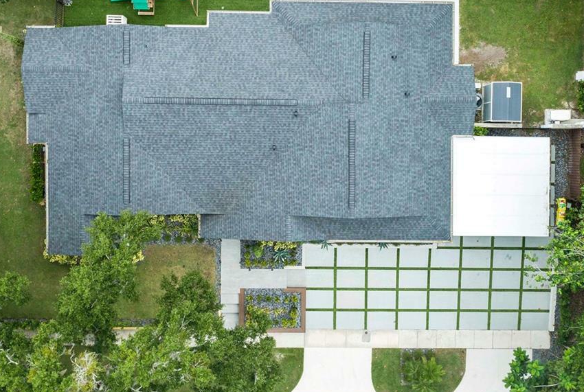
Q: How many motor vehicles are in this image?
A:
0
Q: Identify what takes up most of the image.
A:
buildings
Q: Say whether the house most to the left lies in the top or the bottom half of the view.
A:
top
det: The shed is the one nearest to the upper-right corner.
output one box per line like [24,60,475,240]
[482,82,522,124]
